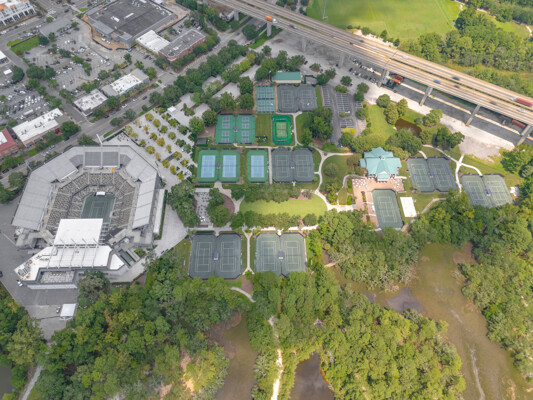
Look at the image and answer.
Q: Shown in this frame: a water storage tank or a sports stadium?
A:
sports stadium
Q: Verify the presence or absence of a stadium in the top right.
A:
No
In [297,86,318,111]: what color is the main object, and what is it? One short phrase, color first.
gray tennis court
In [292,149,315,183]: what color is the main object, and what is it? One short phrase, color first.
gray tennis court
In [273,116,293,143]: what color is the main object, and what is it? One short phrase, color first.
green sports court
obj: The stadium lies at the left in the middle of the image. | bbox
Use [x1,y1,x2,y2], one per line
[12,146,161,258]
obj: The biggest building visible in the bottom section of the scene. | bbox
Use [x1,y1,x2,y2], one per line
[13,218,130,289]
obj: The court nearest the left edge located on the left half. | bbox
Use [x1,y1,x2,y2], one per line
[80,193,115,235]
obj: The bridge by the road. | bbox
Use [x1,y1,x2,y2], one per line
[198,0,533,142]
